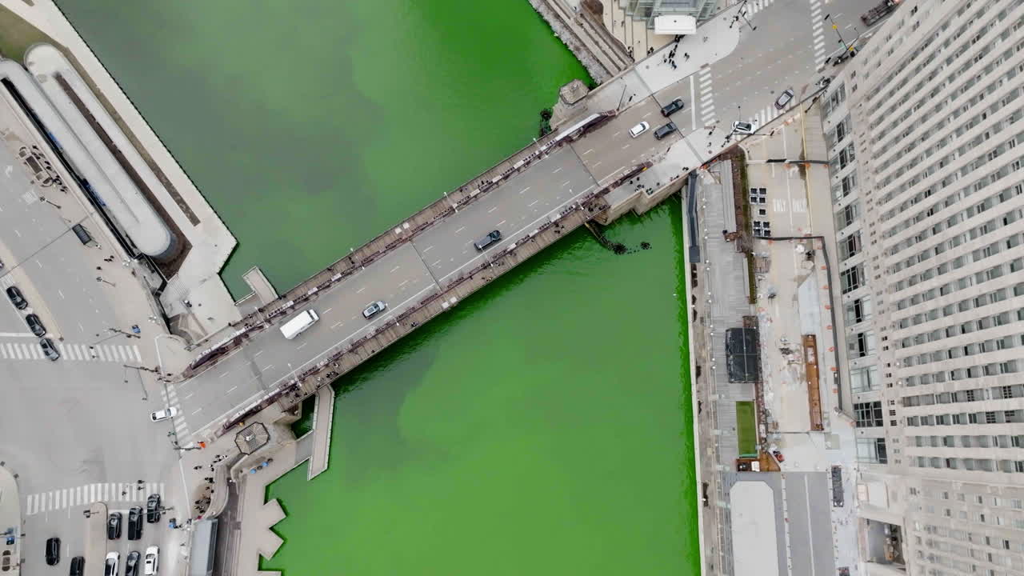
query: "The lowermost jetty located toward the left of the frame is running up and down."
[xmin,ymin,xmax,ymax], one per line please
[294,386,336,482]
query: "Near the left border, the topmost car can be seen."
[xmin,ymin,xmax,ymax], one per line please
[5,285,27,311]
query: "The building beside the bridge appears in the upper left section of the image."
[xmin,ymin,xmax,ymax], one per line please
[0,42,175,258]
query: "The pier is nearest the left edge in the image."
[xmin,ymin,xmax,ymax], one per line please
[233,266,278,317]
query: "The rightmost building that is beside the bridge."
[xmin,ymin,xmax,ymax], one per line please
[820,0,1024,490]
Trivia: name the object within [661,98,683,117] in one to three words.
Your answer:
car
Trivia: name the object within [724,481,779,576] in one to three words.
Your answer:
tent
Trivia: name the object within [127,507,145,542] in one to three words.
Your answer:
vehicle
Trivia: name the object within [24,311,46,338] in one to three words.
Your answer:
car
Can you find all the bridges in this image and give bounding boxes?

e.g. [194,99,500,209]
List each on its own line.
[180,105,650,437]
